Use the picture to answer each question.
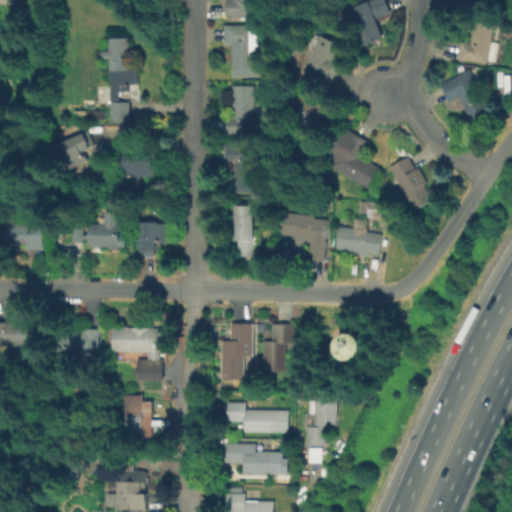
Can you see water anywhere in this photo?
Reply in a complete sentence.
No, no water is visible.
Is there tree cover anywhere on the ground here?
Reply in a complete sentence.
Yes, tree cover shows up in the scene.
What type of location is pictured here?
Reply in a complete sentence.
What you see here is a residential area.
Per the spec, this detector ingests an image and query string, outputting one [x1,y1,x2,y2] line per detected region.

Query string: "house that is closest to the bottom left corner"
[106,470,149,512]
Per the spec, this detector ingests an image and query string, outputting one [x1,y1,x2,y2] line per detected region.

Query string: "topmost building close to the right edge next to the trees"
[456,25,492,62]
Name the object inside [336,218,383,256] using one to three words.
house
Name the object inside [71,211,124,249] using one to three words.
house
